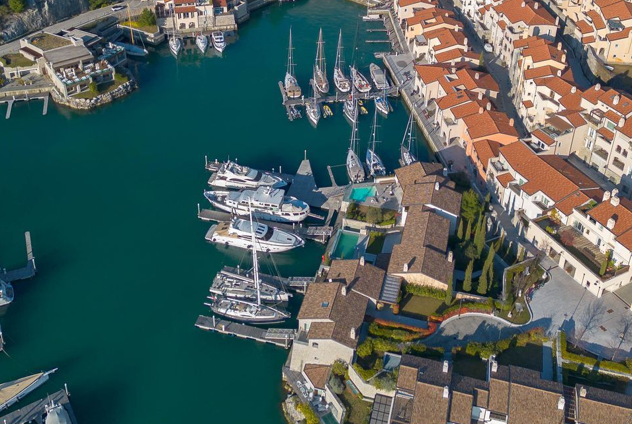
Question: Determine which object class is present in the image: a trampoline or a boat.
boat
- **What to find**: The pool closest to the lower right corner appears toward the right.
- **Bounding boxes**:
[382,351,402,370]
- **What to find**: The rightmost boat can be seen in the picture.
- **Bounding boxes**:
[399,109,415,168]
